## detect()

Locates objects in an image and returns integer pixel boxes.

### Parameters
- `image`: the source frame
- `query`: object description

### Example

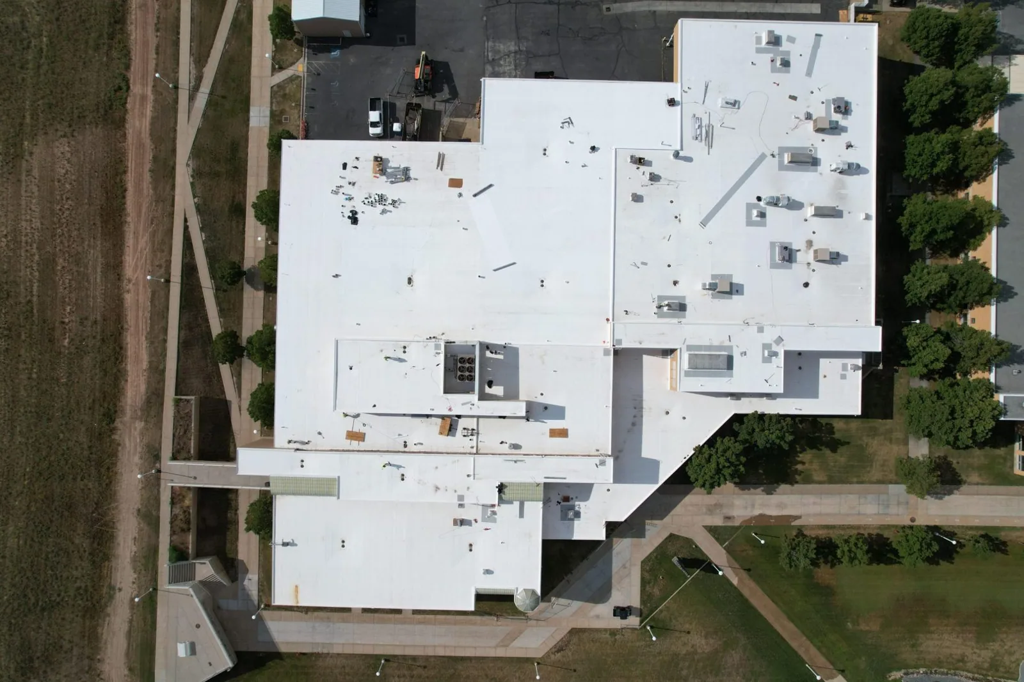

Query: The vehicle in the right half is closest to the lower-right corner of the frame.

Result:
[612,604,631,621]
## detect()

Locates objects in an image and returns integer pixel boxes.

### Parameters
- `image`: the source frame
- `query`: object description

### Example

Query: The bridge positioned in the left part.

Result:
[171,464,278,487]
